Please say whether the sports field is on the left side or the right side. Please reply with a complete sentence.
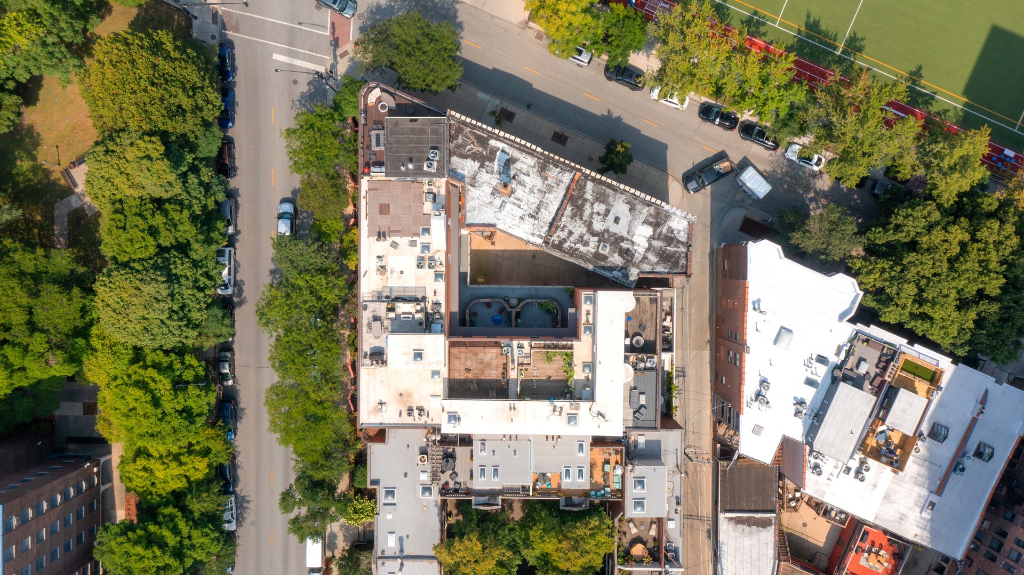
The sports field appears in the right half of the scene.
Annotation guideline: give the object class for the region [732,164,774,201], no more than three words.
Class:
trailer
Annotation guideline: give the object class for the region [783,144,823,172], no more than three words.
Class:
car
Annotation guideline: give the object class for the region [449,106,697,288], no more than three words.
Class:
building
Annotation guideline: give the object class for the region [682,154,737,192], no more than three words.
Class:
truck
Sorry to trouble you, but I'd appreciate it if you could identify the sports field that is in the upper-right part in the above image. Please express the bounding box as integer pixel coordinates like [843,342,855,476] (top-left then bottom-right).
[673,0,1024,157]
